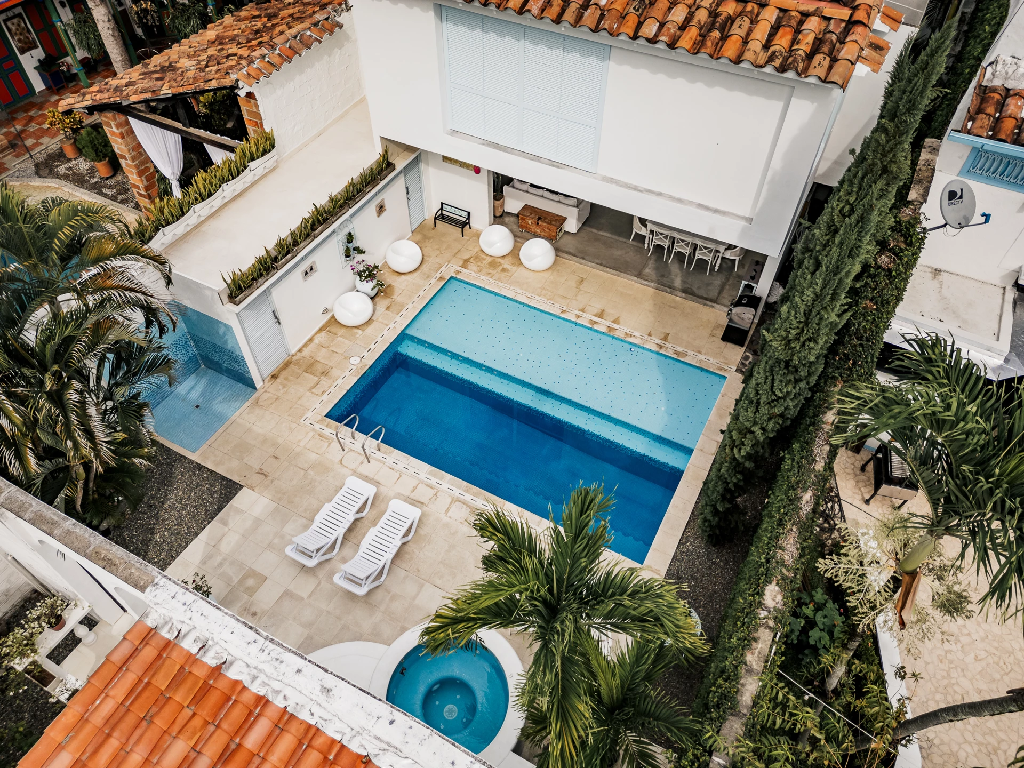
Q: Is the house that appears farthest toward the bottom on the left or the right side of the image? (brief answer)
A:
left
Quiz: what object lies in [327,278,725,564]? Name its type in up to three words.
swimming pool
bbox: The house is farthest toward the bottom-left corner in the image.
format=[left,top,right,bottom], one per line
[41,609,411,768]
